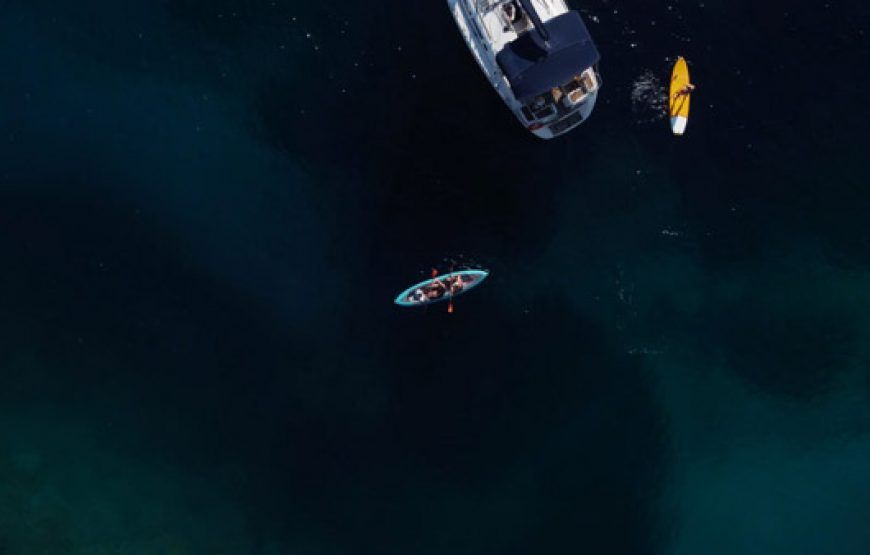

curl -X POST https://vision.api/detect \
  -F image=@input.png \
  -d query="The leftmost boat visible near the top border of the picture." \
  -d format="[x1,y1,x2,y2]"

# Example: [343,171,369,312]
[443,0,603,143]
